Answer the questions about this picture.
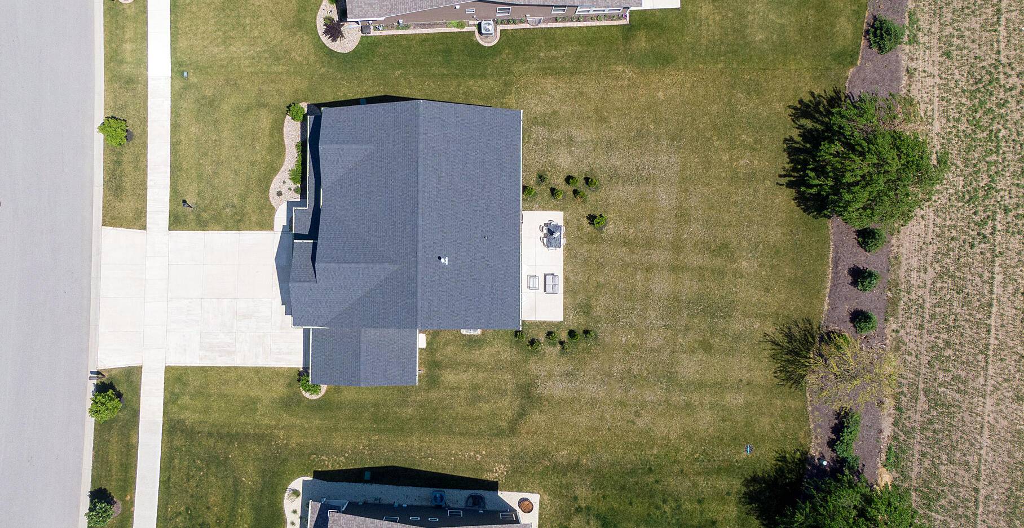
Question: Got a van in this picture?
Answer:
No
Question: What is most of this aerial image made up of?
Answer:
grass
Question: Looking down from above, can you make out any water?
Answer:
No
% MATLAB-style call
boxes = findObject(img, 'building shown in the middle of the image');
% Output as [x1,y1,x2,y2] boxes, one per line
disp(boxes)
[289,100,523,387]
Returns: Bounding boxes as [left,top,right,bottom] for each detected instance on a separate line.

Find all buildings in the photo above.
[306,499,535,528]
[289,100,523,387]
[346,0,639,25]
